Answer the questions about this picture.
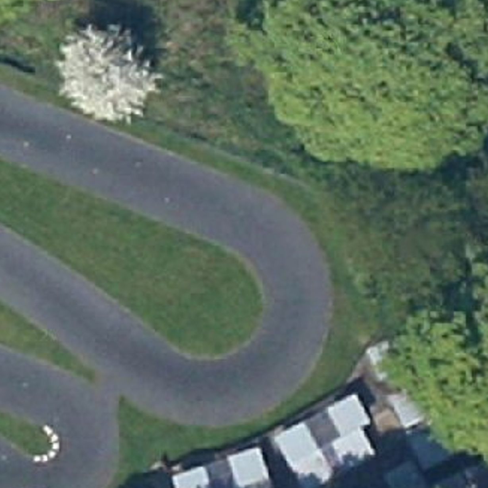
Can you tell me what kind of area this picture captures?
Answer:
sports ground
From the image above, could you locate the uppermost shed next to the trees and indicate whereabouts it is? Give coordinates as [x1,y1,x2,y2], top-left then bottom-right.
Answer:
[367,341,392,369]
